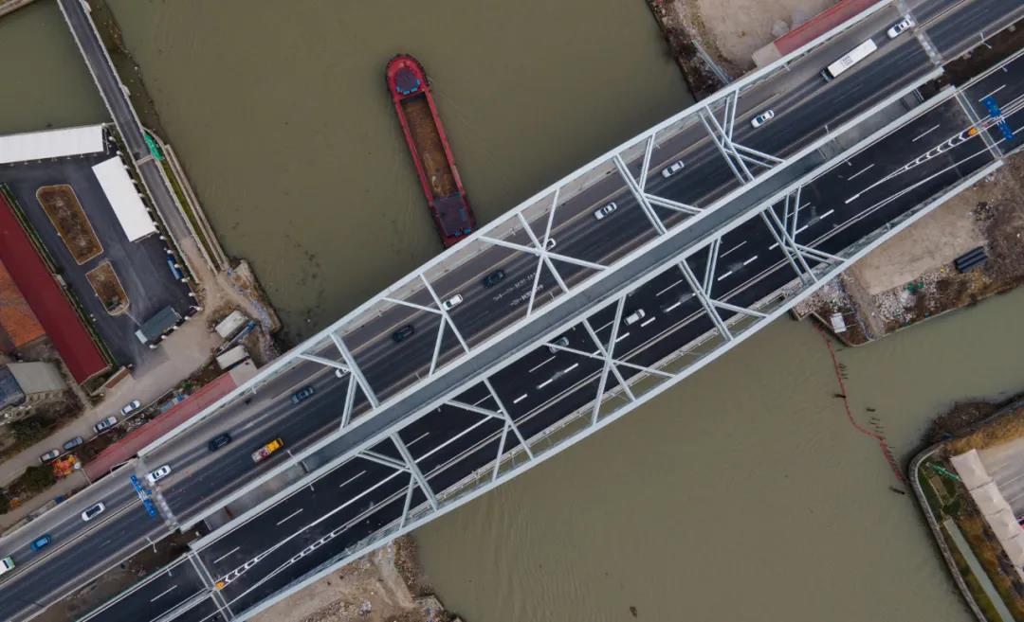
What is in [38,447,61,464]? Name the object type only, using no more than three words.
car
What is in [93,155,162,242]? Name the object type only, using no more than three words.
shed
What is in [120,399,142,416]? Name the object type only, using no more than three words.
car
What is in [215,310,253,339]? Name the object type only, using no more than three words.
building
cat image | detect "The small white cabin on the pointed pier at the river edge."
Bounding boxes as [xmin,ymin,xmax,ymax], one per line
[827,310,855,333]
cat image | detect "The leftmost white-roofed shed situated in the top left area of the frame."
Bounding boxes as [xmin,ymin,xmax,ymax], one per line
[0,125,112,168]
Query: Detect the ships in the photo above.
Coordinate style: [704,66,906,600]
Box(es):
[387,50,473,252]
